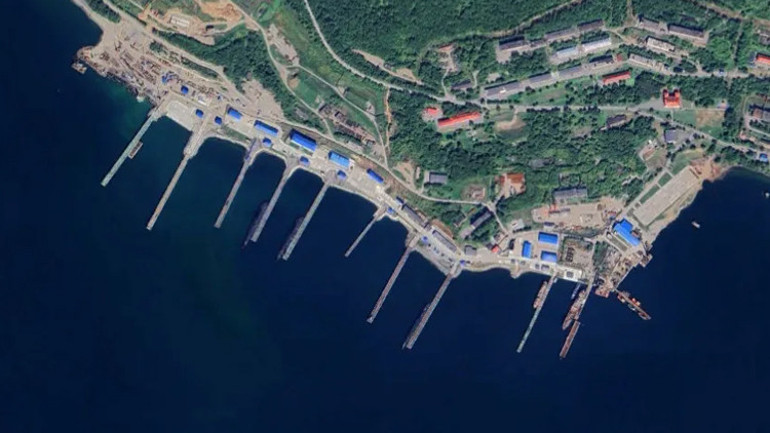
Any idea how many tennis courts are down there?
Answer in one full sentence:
The count of tennis courts is 0.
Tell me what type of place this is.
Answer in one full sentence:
What you see here is a port.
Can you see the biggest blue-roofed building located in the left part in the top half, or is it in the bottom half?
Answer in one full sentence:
The biggest blue-roofed building located in the left part is in the top half of the image.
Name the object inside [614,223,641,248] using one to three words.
building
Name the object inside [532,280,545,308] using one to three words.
ship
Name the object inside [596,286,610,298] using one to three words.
ship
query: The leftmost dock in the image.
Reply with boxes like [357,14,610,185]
[102,113,156,186]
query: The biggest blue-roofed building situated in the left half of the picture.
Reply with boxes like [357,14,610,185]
[288,128,318,150]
